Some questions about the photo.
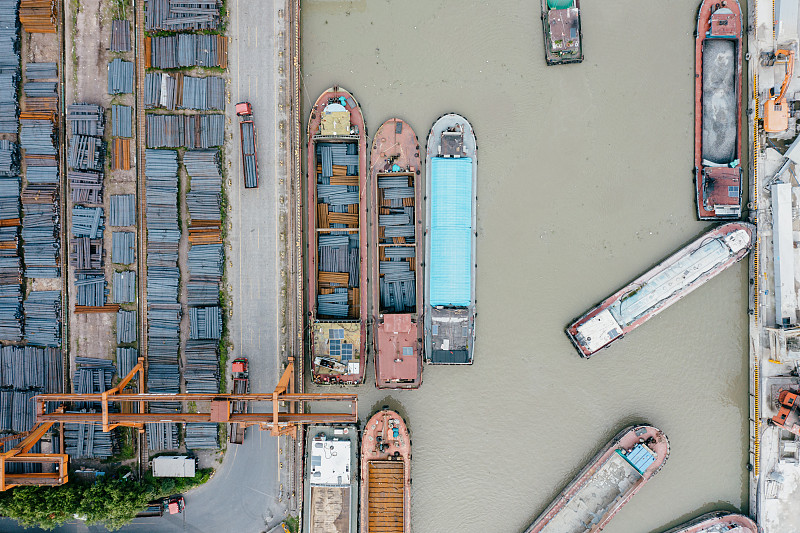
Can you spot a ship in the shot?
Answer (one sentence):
Yes, the picture does show a ship.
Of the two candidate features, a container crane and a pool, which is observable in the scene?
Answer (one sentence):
Of the two, only a container crane appears.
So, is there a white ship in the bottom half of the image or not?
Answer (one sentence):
Yes, looking in the bottom half of the image, one can make out a white ship.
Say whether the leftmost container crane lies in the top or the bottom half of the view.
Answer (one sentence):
The bottom half of the photo is where the leftmost container crane is.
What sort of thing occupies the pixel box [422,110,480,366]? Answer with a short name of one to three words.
ship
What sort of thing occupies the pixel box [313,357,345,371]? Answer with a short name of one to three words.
boat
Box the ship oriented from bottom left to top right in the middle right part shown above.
[562,220,758,360]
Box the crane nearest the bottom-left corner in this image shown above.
[0,404,70,492]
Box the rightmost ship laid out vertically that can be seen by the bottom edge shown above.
[359,403,414,533]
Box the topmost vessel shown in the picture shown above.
[541,0,587,69]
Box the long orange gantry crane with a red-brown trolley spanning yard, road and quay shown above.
[36,355,358,442]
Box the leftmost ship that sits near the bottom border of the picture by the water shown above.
[301,424,361,533]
